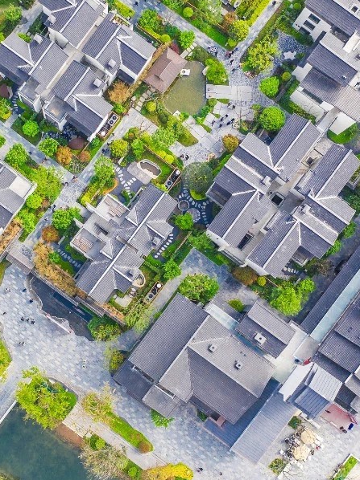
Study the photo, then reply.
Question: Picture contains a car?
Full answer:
No, I can't see a single car in this photo.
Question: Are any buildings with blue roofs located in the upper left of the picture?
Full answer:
No, there is no building with a blue roof in the upper left of the picture.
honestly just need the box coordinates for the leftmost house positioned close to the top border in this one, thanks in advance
[0,0,159,141]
